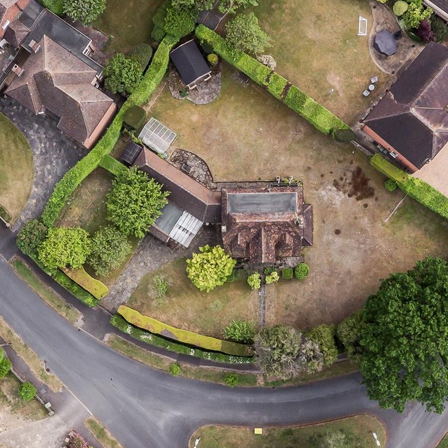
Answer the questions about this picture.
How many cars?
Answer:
none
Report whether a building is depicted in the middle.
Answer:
Yes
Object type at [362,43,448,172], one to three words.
house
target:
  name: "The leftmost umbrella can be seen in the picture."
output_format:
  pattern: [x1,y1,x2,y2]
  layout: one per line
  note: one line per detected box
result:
[371,30,398,56]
